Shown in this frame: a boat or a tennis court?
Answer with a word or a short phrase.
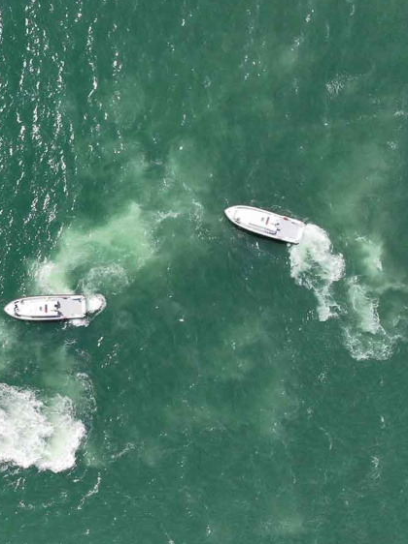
boat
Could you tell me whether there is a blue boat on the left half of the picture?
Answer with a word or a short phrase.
No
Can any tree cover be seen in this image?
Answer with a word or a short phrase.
No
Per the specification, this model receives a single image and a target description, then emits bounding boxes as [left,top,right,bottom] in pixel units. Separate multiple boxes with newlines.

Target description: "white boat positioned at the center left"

[6,294,89,321]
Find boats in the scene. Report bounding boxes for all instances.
[227,203,309,244]
[6,294,89,321]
